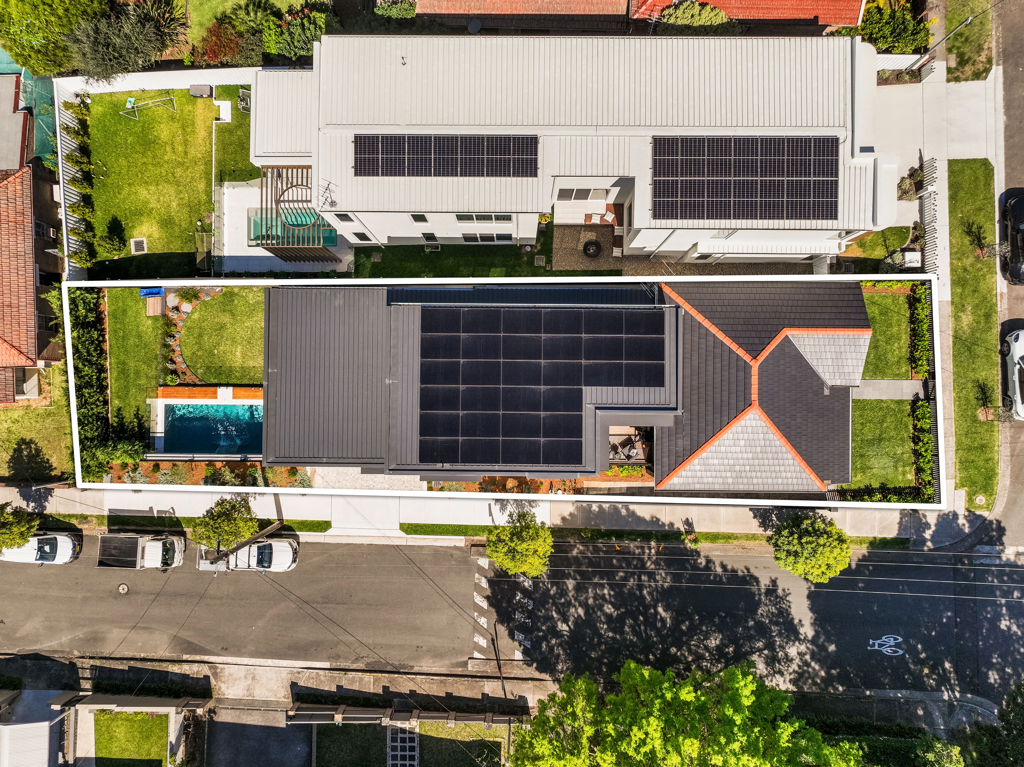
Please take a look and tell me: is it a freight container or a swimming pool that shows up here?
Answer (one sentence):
I can see a swimming pool in this picture.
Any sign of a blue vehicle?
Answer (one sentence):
No, there appears to be no blue vehicle in this shot.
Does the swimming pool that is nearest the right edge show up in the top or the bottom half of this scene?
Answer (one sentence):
You can find the swimming pool that is nearest the right edge in the top half.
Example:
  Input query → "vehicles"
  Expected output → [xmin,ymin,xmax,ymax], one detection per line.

[1000,197,1024,289]
[101,527,188,572]
[0,529,88,571]
[198,533,301,576]
[1007,332,1024,419]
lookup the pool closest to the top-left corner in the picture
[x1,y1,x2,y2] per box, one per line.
[249,209,337,247]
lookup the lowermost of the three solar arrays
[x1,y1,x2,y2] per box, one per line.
[418,308,668,464]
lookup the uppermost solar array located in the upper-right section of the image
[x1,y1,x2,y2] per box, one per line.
[649,135,842,220]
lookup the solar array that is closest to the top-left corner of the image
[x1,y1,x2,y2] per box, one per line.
[351,134,541,177]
